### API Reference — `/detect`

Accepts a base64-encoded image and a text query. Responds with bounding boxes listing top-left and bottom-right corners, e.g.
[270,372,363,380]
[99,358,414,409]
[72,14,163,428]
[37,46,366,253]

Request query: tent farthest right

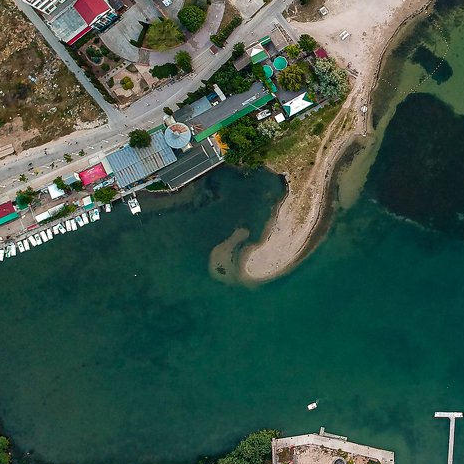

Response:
[283,93,316,117]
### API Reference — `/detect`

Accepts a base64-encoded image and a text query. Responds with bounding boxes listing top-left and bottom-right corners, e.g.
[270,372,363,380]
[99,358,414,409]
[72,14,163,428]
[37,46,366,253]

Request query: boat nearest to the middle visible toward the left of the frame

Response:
[127,196,142,217]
